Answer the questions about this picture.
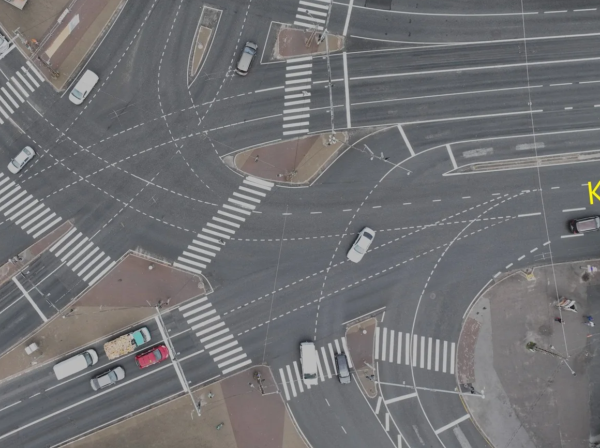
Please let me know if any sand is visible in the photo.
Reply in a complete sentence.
No, the picture contains no sand.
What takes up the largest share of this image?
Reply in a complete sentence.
For the most part, this view shows paved ground.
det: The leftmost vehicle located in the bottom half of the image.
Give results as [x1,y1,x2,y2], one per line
[52,349,98,383]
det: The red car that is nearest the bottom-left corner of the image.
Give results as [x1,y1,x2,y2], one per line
[134,347,170,371]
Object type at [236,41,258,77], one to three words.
car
